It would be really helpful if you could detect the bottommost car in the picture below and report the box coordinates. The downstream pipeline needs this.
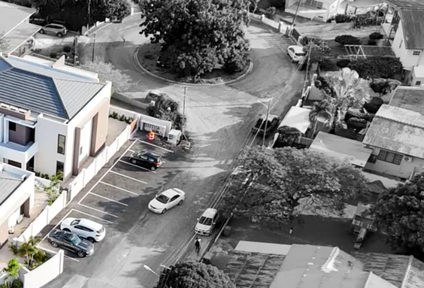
[45,227,96,255]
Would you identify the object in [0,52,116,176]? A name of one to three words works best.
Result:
house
